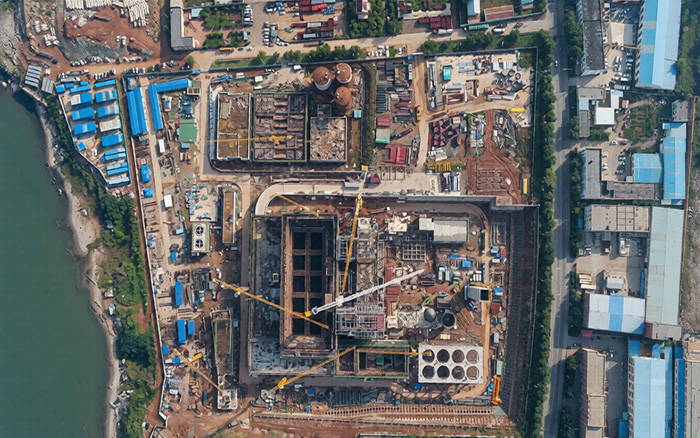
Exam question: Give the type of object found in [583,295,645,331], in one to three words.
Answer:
building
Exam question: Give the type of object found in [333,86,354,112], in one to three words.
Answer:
silo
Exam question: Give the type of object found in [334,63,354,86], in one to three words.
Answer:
silo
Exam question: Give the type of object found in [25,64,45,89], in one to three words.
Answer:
greenhouse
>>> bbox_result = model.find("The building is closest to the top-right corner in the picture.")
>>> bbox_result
[630,0,678,92]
